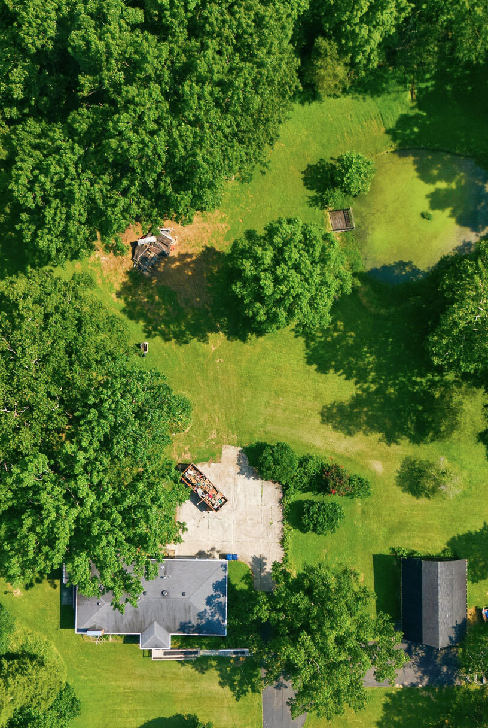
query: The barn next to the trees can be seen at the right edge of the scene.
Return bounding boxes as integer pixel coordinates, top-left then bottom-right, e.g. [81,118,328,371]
[401,556,468,651]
